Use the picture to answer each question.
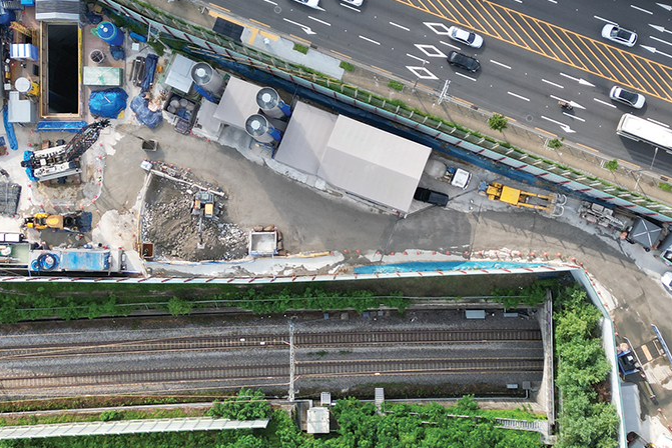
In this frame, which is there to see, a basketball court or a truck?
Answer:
truck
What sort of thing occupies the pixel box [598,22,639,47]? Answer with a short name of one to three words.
car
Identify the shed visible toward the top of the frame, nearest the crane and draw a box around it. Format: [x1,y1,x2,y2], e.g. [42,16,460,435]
[9,101,42,124]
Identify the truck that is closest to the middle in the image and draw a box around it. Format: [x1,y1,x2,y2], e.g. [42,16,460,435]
[410,184,454,210]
